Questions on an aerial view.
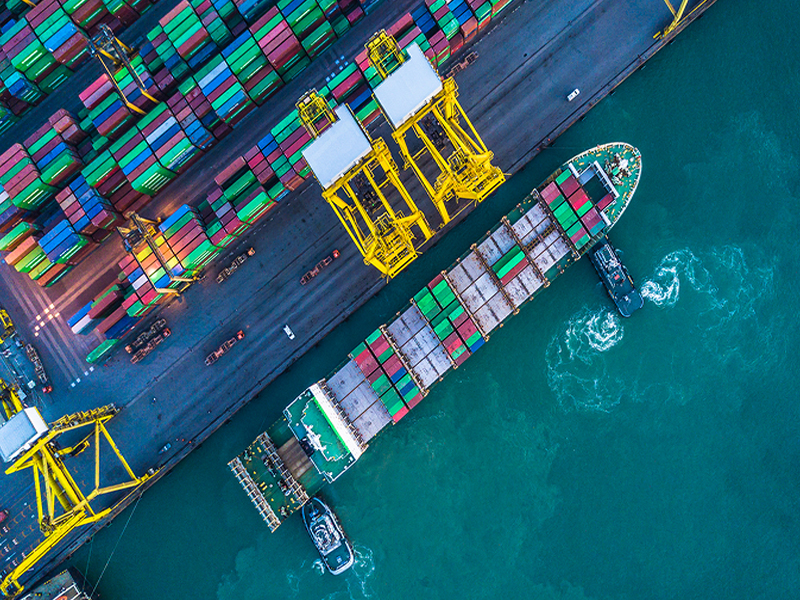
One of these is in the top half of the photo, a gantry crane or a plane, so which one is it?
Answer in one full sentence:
It is a gantry crane that can be seen in the top half of the photo.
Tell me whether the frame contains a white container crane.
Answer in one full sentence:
No, the scene contains no white container crane.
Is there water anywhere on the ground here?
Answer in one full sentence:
Yes, the picture does contain water.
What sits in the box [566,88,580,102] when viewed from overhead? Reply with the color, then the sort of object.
white vehicle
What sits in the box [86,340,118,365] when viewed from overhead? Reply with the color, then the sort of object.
green shipping container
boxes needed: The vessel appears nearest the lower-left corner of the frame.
[27,563,104,600]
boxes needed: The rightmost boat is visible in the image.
[589,234,642,320]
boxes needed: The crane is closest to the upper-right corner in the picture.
[652,0,709,44]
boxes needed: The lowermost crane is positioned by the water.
[0,367,150,600]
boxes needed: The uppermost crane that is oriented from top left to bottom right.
[85,25,159,117]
